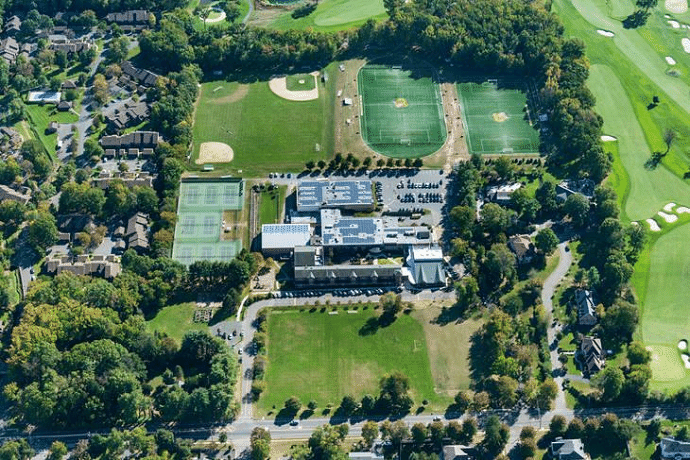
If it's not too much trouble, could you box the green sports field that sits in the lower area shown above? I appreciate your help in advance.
[253,306,447,421]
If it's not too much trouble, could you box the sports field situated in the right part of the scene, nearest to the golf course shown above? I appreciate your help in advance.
[455,77,543,154]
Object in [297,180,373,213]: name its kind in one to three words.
building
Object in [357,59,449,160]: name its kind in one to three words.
sports field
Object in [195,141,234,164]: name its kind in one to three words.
baseball field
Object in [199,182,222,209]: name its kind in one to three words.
tennis court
